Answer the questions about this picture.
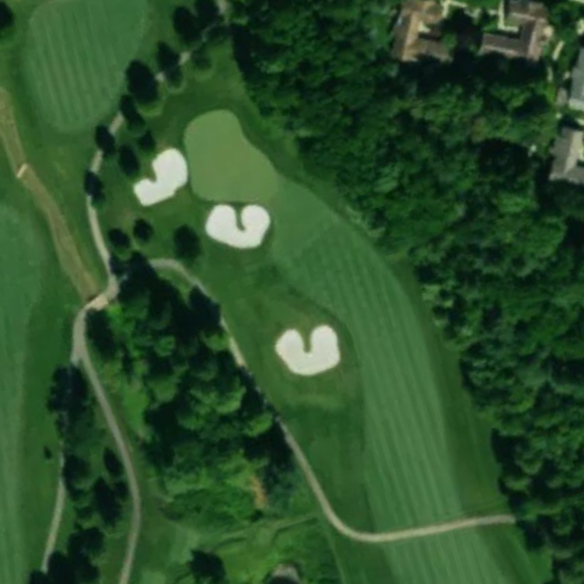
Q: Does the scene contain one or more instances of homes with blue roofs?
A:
No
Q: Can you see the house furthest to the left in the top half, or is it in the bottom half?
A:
top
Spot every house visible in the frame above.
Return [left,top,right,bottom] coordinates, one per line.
[570,47,584,109]
[482,1,550,60]
[394,1,452,65]
[553,127,584,185]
